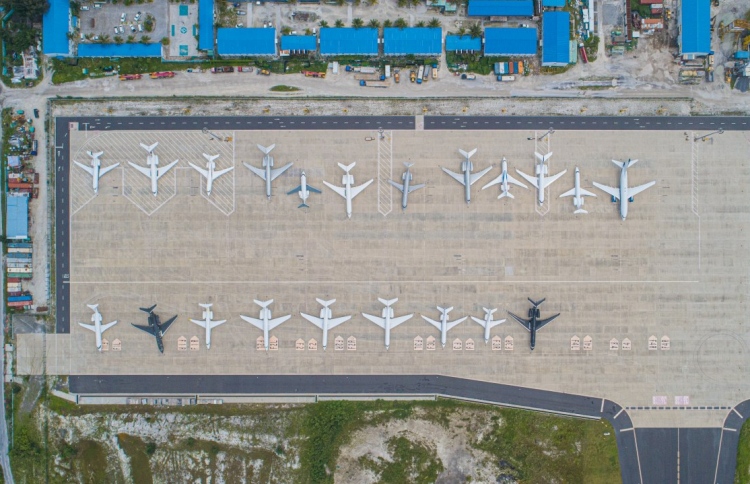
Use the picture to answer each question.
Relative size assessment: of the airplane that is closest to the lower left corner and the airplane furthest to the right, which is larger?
the airplane furthest to the right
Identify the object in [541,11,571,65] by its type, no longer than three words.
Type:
shed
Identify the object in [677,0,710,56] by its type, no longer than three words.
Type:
shed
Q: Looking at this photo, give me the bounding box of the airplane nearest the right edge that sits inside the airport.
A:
[594,157,660,220]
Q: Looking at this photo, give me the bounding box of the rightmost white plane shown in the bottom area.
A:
[471,306,507,343]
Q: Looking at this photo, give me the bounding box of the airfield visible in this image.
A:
[16,116,750,484]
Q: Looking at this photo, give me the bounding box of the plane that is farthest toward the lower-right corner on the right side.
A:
[508,300,561,350]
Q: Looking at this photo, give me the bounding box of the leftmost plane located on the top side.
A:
[73,151,121,193]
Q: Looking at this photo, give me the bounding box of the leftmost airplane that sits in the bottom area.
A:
[81,307,119,351]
